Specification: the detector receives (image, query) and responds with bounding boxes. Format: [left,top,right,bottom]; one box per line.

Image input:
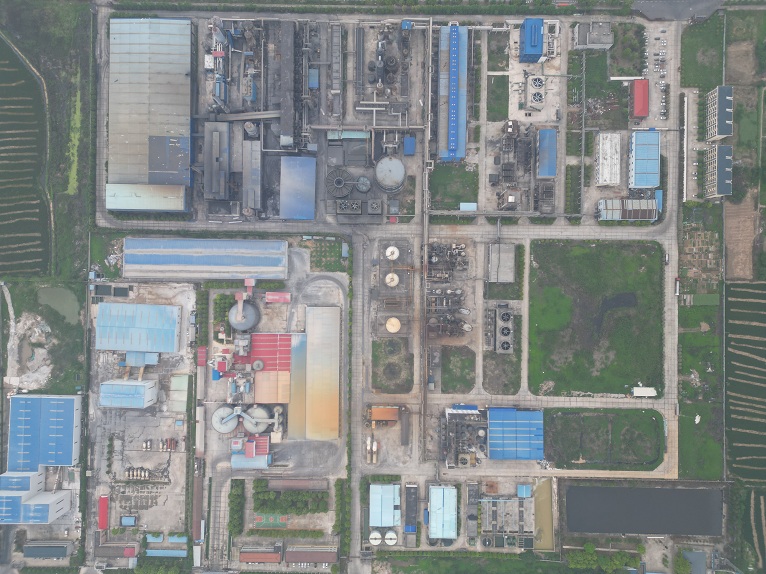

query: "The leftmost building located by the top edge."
[109,17,194,189]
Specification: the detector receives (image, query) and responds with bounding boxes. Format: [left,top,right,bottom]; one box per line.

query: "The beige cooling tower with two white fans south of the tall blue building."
[525,76,545,109]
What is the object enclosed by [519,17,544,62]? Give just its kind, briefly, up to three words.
house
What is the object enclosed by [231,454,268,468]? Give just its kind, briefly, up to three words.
shed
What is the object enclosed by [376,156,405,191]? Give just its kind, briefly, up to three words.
storage tank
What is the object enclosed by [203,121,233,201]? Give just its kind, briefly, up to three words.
building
